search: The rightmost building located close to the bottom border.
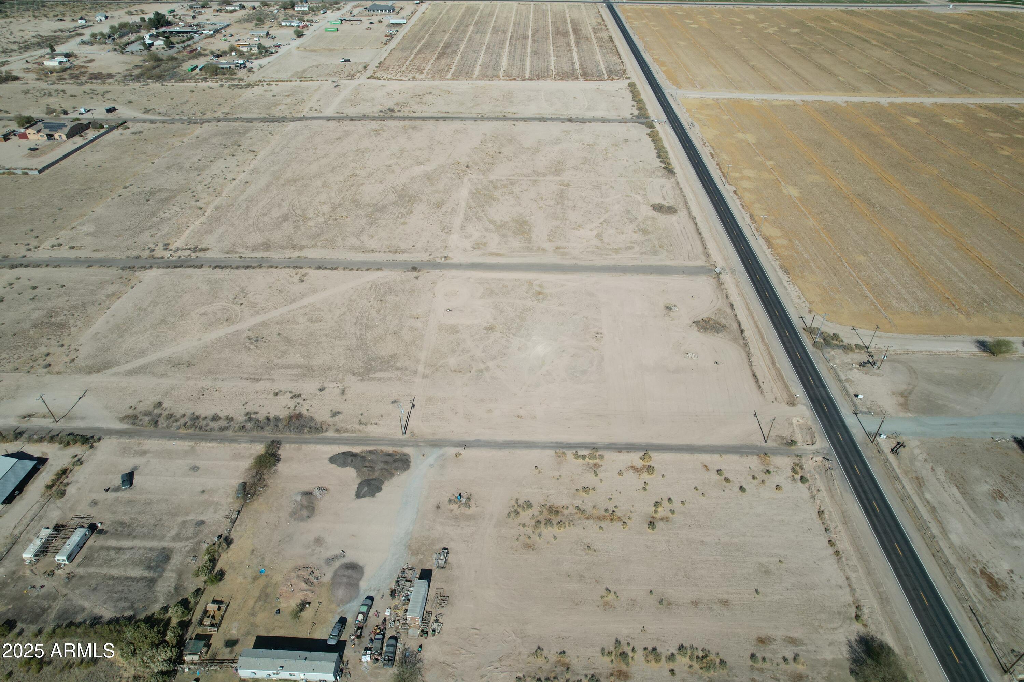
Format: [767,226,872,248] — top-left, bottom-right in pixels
[235,646,342,682]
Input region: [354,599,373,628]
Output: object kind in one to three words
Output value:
vehicle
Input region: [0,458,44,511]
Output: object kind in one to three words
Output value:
barn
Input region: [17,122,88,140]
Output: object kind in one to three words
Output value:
house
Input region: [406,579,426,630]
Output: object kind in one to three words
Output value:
trailer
